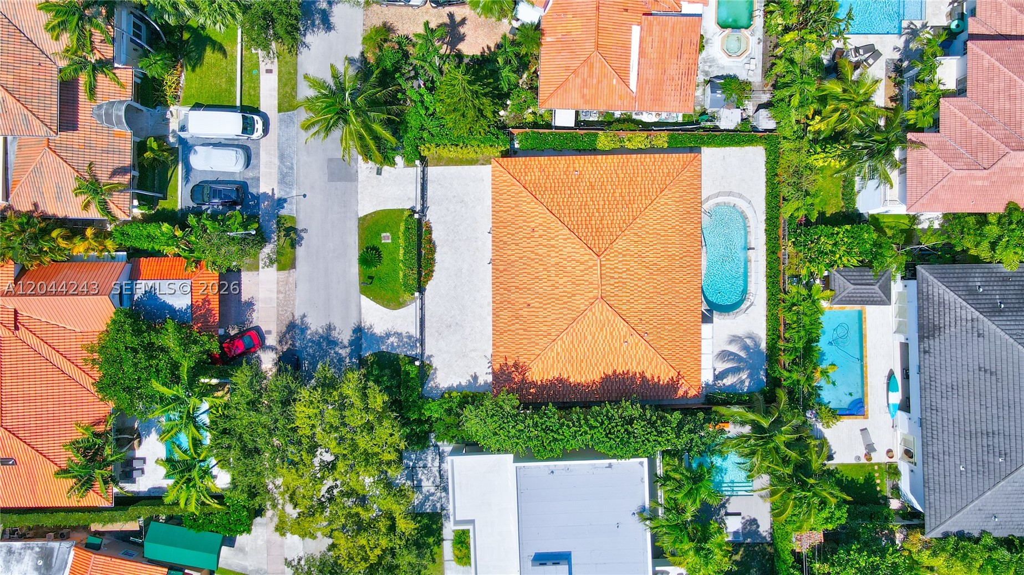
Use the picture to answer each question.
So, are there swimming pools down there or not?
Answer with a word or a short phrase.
Yes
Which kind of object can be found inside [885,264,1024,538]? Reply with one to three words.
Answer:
house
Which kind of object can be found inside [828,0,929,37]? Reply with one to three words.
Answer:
swimming pool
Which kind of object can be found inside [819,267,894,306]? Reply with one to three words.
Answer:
gazebo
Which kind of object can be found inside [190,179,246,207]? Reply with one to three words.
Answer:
car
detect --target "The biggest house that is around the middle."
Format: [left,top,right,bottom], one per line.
[490,153,704,402]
